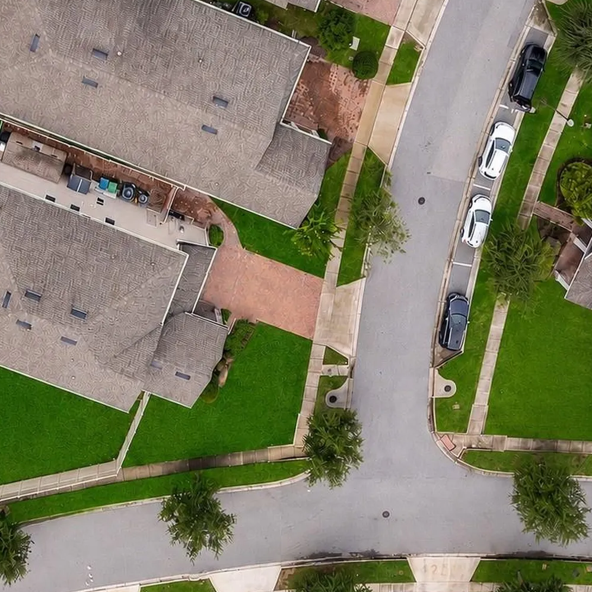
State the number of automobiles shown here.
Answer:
four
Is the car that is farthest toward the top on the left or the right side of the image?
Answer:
right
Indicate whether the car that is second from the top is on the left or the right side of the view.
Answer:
right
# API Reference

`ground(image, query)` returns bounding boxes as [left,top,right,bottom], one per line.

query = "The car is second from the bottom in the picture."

[460,193,494,249]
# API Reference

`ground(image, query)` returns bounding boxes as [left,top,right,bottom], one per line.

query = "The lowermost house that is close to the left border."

[0,157,228,413]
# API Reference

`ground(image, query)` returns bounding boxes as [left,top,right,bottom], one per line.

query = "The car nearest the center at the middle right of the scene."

[437,290,474,355]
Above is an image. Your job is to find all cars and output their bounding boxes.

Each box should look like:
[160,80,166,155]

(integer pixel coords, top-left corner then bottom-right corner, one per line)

[478,120,517,181]
[460,193,494,249]
[437,290,474,355]
[507,42,551,112]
